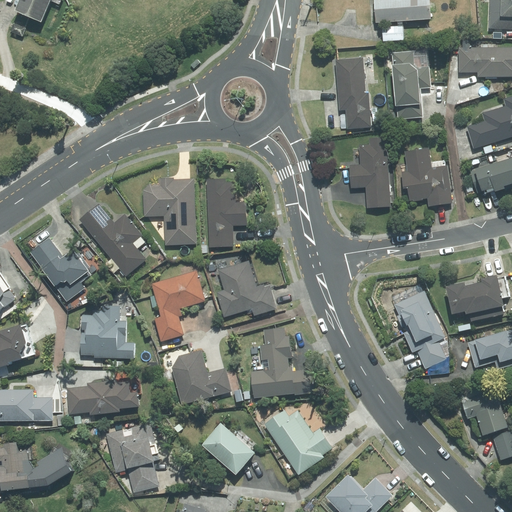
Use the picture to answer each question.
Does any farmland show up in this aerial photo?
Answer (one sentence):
No, there is no farmland in the image.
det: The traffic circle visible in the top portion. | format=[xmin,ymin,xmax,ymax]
[220,76,266,122]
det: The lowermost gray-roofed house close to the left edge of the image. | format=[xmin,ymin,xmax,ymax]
[0,442,74,490]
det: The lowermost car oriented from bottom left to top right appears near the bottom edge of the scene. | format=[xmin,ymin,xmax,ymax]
[386,475,402,491]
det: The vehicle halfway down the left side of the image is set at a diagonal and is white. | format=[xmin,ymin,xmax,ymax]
[34,231,50,243]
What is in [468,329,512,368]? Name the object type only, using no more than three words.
house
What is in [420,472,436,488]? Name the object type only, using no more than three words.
vehicle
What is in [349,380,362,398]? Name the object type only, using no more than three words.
vehicle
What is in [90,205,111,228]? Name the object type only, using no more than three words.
solar panel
